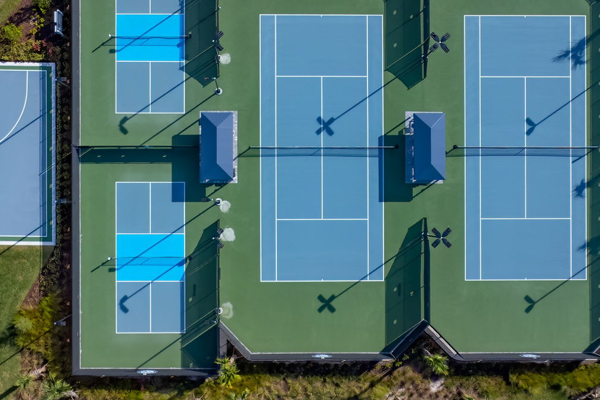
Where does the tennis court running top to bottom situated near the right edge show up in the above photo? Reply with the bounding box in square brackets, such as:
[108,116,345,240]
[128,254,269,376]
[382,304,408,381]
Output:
[424,0,600,353]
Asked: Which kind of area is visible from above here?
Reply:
sports ground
